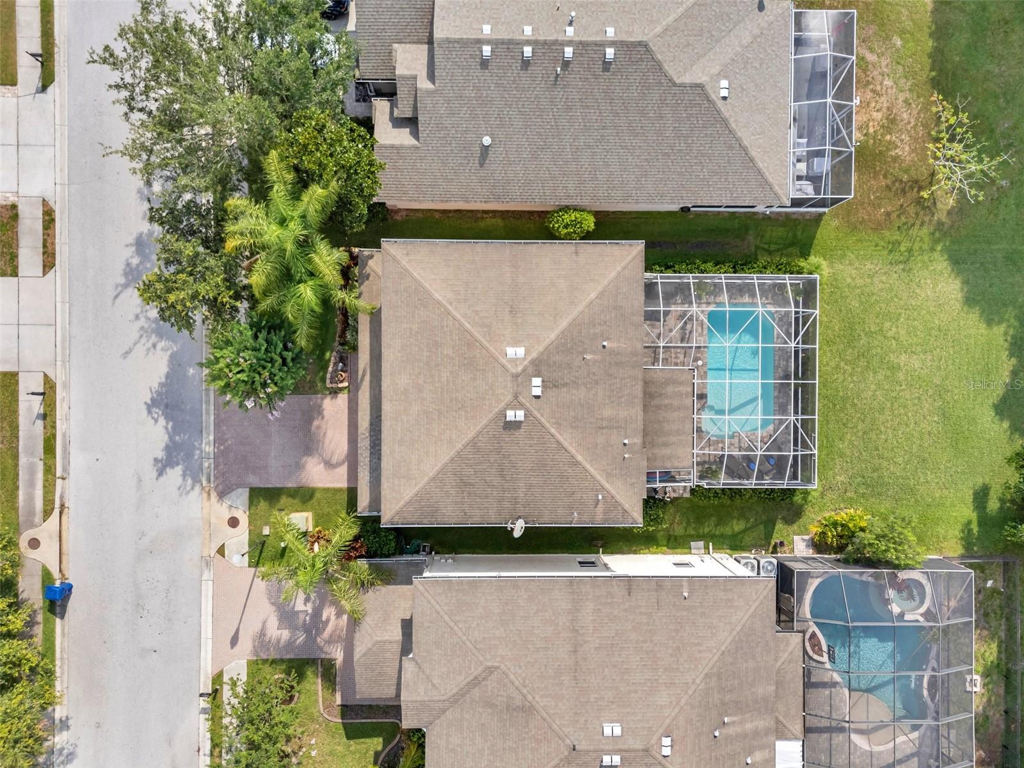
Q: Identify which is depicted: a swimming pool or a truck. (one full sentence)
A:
I can see a swimming pool in this picture.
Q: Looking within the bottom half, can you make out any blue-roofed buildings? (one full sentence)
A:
No, I can find no blue-roofed building within the bottom half.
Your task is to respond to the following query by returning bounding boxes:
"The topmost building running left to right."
[351,0,797,211]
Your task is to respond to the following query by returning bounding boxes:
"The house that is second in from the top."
[356,238,698,529]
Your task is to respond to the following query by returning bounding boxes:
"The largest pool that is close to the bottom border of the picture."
[804,571,944,753]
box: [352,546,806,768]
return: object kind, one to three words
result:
house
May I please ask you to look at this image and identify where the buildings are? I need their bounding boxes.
[352,546,806,768]
[356,238,698,529]
[351,0,797,211]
